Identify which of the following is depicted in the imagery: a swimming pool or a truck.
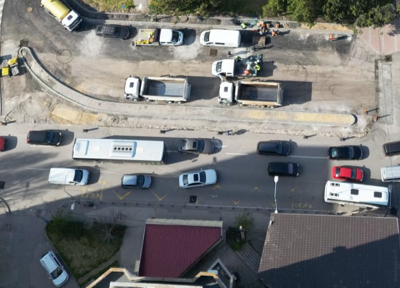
truck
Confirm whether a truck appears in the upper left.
Yes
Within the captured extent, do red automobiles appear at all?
Yes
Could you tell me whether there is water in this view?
No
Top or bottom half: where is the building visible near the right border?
bottom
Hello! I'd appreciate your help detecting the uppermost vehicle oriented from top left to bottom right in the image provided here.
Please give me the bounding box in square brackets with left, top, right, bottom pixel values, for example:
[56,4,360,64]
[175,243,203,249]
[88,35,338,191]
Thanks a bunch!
[37,0,88,33]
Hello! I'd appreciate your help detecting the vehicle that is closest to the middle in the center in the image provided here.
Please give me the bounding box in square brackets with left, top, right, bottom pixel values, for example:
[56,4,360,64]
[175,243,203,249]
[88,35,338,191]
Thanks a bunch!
[179,139,215,155]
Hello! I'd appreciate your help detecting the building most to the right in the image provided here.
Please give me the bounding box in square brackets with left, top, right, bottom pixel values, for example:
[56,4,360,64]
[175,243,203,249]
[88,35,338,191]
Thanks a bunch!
[257,212,400,288]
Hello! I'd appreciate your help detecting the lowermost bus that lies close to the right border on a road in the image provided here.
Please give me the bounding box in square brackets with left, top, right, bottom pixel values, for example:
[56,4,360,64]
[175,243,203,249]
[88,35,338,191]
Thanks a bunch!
[323,180,394,209]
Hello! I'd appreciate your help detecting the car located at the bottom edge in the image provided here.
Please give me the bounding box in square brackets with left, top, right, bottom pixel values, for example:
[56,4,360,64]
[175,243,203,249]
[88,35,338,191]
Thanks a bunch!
[37,248,70,288]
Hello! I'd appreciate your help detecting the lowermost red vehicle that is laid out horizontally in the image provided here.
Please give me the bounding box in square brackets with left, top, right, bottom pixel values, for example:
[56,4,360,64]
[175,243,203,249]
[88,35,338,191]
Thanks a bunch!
[331,164,364,181]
